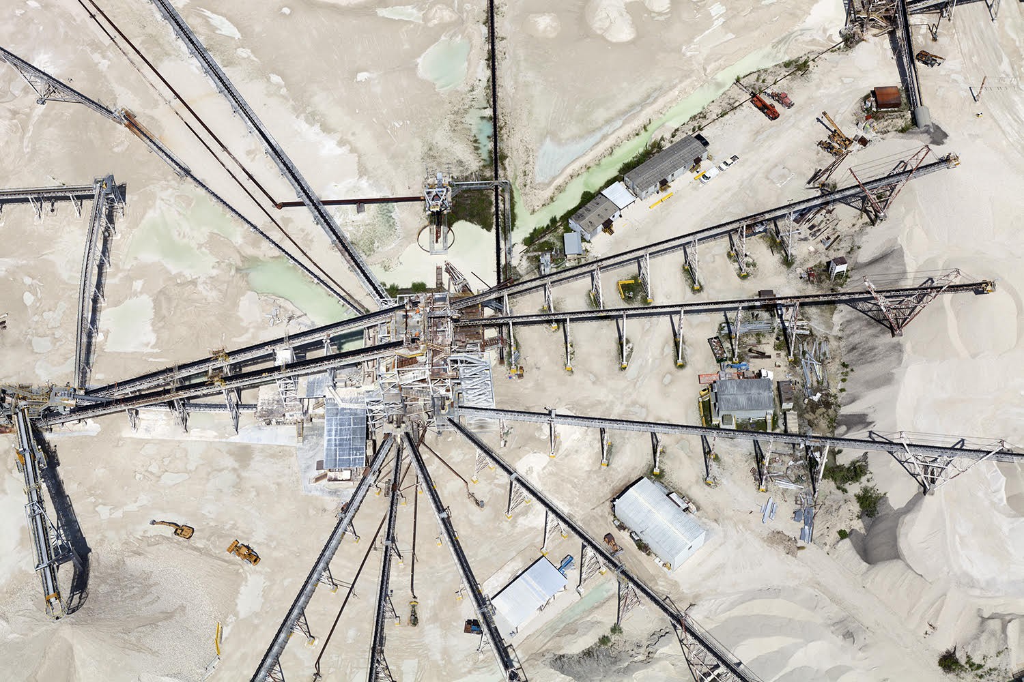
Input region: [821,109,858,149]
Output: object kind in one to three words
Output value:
crane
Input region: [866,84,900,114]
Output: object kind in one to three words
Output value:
shed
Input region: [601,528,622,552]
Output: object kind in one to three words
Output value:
work vehicle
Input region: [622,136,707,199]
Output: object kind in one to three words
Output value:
building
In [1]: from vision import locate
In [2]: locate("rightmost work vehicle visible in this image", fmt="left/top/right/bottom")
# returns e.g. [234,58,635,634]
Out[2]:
[818,135,845,158]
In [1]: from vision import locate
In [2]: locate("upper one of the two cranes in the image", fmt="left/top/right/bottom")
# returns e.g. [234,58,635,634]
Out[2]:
[736,75,783,117]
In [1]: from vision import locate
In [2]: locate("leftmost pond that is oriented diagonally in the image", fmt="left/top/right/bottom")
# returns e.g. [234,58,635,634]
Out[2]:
[243,254,366,359]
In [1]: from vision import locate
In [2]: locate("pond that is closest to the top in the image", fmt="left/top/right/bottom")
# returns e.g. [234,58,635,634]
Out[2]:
[415,38,475,99]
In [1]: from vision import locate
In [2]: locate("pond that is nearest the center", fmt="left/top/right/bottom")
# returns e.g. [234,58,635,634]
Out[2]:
[377,219,499,294]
